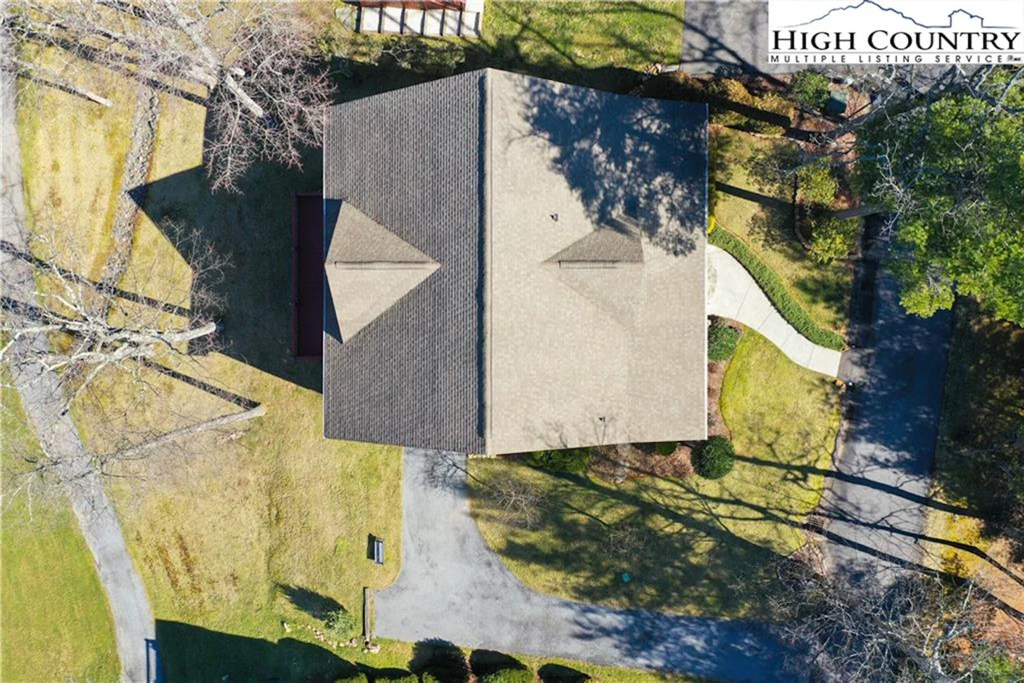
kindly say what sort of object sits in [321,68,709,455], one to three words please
house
